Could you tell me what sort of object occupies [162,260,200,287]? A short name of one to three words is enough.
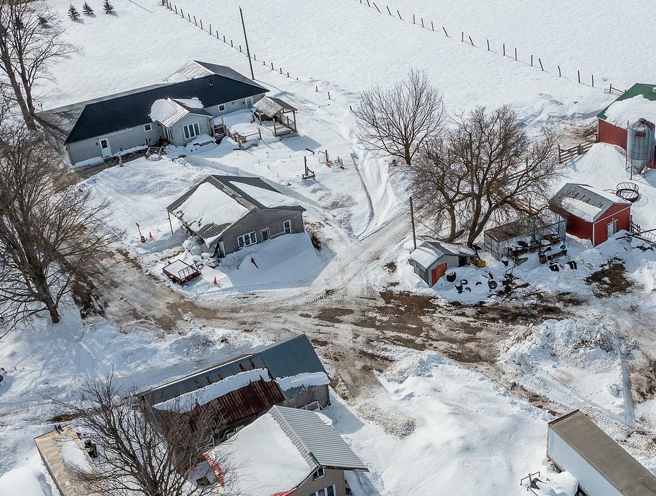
trailer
